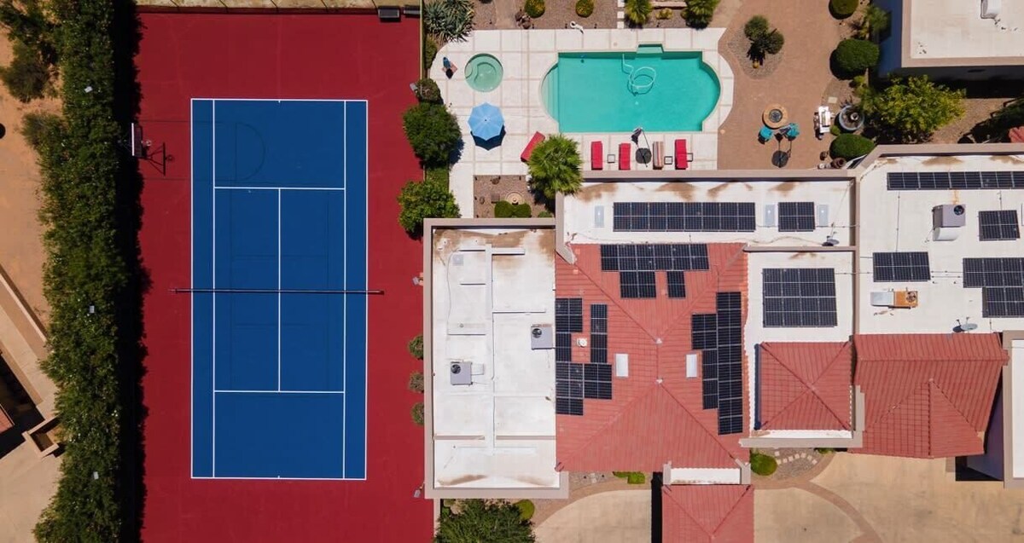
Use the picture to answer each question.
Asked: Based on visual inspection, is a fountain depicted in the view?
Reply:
Yes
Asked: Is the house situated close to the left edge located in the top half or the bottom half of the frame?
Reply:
bottom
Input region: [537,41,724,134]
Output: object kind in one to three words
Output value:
swimming pool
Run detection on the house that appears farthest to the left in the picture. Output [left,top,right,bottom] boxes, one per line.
[0,361,43,449]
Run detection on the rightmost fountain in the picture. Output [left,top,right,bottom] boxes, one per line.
[837,105,863,130]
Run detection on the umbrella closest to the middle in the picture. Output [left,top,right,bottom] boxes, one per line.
[467,103,505,140]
